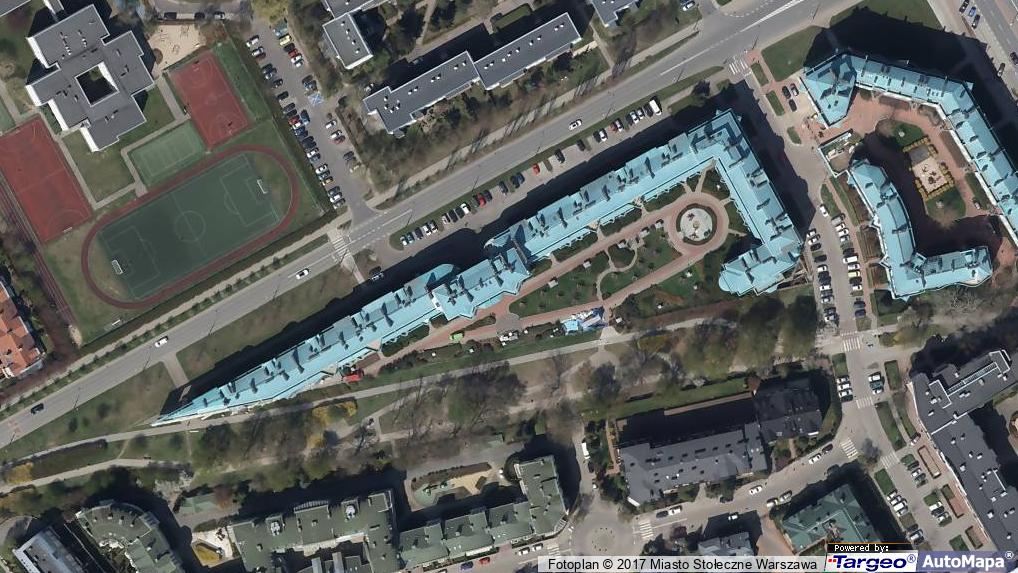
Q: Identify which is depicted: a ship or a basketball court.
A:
basketball court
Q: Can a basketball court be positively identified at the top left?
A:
Yes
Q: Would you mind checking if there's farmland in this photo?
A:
No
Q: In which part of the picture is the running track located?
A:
left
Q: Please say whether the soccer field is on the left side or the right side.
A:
left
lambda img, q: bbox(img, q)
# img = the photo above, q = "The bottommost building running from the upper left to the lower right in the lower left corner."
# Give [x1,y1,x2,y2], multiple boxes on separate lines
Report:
[73,497,189,573]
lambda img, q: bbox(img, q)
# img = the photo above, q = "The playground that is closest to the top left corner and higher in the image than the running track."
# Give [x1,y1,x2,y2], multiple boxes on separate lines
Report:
[150,24,203,71]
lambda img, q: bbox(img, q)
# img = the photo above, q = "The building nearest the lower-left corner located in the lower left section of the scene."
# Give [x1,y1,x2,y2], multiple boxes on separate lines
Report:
[12,528,86,573]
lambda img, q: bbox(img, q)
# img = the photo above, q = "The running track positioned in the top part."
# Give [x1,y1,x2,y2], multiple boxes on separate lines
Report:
[83,145,299,309]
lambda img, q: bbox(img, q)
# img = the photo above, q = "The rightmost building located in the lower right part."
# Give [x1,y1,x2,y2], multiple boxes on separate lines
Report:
[906,349,1018,573]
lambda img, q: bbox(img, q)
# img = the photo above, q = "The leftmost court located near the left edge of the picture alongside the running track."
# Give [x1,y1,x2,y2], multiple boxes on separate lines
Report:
[0,115,92,244]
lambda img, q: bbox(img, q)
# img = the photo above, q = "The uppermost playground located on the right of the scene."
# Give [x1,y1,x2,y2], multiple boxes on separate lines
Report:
[913,157,947,193]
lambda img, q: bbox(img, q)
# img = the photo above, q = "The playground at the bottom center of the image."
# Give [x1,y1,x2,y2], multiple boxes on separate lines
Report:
[411,463,494,512]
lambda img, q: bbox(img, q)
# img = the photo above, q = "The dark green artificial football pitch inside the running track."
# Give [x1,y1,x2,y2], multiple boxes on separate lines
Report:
[98,154,278,298]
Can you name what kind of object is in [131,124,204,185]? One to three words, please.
sports court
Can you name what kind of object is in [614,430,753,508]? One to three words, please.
building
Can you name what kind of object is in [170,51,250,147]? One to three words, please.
basketball court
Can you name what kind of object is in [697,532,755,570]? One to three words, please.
house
